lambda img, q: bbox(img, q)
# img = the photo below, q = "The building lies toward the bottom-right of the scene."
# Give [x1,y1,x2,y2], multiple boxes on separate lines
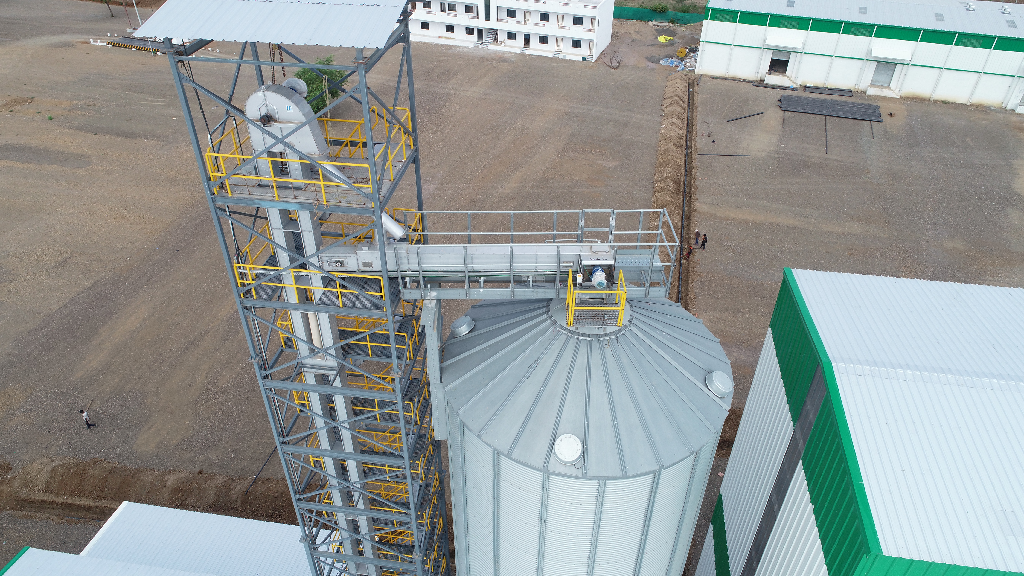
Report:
[691,267,1024,576]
